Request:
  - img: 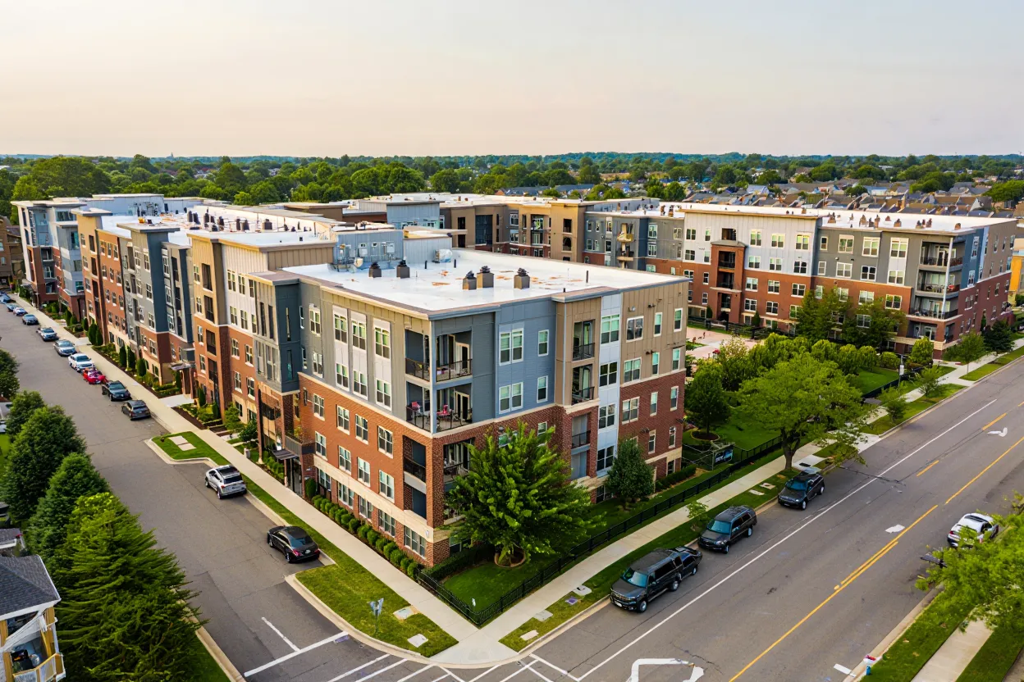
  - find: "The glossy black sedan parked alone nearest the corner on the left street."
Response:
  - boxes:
[254,521,313,560]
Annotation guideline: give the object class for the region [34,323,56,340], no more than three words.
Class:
car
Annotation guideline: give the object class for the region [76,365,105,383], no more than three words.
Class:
car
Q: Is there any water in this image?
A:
No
